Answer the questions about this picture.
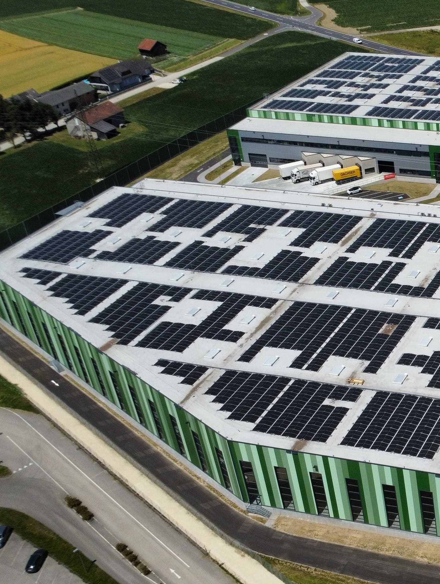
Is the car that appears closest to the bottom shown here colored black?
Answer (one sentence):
Yes, the car that appears closest to the bottom is black.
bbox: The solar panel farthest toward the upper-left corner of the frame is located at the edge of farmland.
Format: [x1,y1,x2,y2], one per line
[103,64,130,80]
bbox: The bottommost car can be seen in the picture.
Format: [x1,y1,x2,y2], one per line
[23,545,45,572]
